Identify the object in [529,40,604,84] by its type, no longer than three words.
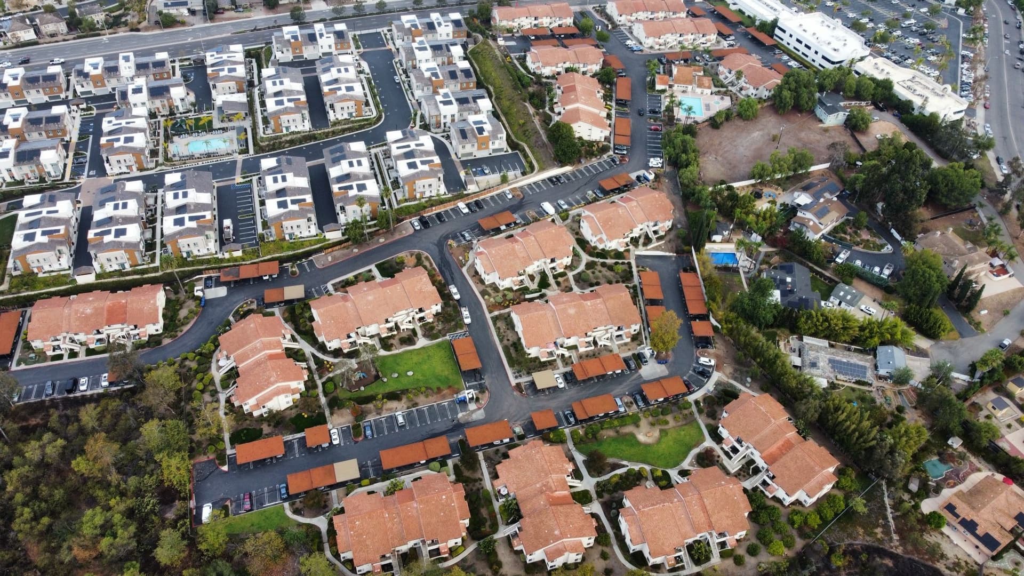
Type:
building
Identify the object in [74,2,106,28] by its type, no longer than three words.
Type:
house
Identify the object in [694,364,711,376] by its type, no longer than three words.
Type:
vehicle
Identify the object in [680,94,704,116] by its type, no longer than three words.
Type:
swimming pool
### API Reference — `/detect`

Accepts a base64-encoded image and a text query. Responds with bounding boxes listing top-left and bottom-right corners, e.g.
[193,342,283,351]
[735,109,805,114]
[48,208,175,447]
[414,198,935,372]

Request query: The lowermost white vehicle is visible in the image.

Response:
[199,501,211,523]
